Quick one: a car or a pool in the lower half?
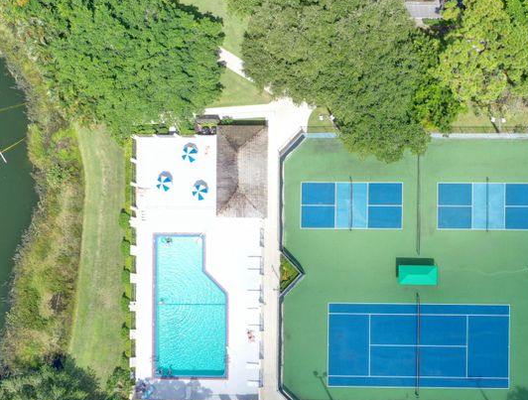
pool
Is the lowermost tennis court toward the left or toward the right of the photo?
right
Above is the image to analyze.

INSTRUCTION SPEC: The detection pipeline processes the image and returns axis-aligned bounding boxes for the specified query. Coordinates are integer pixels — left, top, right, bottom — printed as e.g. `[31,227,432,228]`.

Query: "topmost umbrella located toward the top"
[180,145,198,161]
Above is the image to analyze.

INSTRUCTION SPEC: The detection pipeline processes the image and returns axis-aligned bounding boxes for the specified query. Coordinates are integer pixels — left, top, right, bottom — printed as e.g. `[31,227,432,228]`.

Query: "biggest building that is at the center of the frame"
[216,124,268,219]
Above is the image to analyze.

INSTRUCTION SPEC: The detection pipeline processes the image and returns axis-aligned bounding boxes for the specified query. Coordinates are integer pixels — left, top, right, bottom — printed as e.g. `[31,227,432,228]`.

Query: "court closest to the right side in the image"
[437,177,528,232]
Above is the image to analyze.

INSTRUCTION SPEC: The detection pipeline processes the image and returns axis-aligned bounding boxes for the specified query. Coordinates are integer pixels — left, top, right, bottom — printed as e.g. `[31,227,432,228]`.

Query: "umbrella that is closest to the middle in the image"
[190,181,208,199]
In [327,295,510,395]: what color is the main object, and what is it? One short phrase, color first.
blue tennis court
